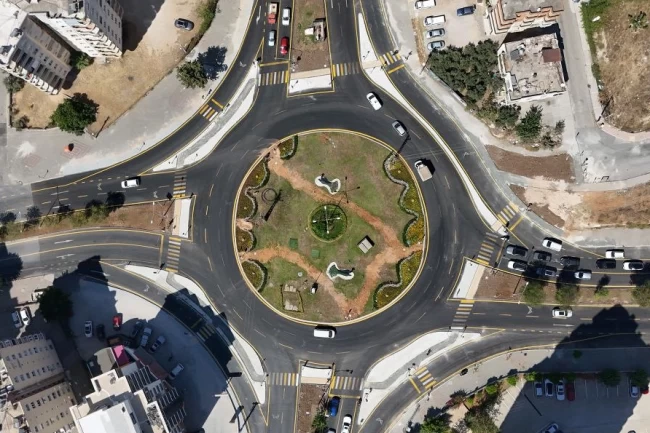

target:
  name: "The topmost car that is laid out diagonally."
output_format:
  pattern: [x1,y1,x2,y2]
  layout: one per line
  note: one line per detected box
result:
[367,93,381,110]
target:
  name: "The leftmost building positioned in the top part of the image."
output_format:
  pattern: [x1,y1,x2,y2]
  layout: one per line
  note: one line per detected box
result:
[0,6,71,97]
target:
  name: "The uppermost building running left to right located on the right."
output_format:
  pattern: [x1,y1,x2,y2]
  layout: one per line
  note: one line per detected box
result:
[486,0,567,37]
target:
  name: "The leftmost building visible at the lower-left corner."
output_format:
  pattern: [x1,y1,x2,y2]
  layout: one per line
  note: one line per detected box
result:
[0,336,76,433]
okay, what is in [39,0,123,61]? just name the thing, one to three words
building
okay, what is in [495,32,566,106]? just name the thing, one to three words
building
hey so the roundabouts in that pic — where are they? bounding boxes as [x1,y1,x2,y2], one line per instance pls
[234,130,428,324]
